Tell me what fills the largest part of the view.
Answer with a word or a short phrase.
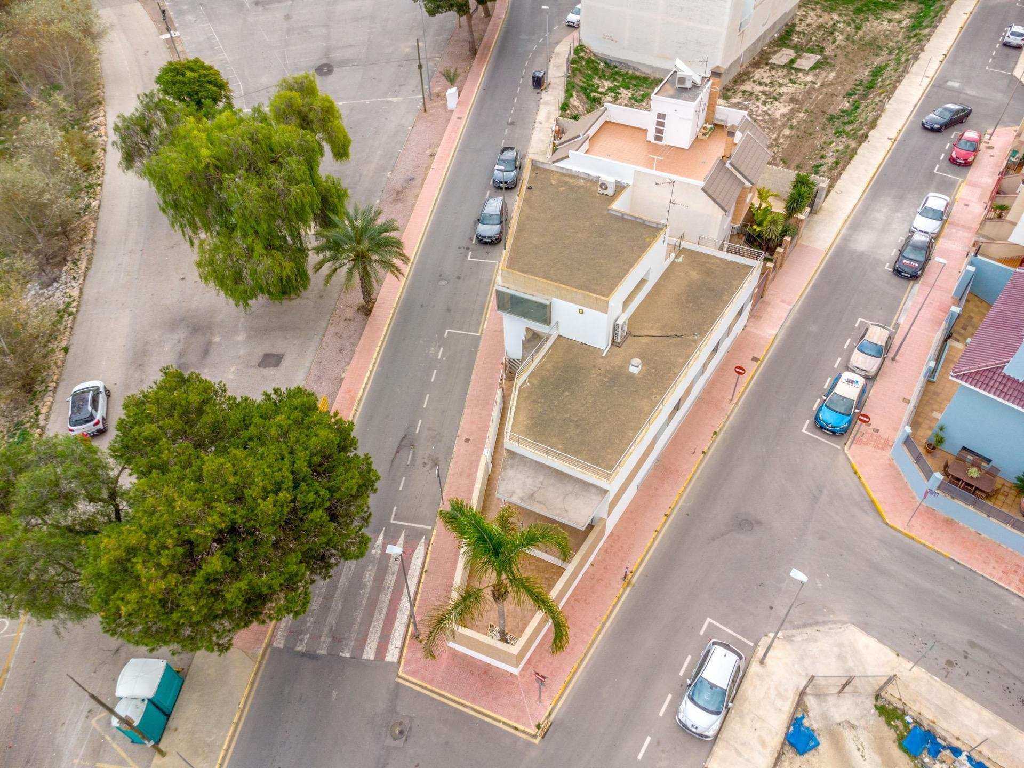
paved ground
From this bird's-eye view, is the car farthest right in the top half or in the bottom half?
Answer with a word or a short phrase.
top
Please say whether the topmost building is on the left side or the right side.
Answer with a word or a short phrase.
right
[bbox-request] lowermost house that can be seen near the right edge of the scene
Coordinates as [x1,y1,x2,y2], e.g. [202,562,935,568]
[927,271,1024,488]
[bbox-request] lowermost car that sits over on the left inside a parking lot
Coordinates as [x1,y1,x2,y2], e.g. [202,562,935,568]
[65,381,108,439]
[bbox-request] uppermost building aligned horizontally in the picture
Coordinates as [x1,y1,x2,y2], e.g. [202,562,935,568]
[581,0,800,90]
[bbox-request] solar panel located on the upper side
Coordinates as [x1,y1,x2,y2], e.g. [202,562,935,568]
[673,58,700,89]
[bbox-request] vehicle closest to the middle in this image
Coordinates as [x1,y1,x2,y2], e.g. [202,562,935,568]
[474,198,508,244]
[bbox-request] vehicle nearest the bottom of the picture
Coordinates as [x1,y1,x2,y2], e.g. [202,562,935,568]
[678,639,745,745]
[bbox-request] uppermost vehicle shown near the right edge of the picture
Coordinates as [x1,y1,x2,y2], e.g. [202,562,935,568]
[1002,26,1024,49]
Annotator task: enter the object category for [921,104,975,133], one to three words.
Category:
car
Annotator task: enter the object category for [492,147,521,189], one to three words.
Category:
car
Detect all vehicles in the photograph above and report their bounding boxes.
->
[567,6,583,27]
[949,131,980,165]
[474,198,508,244]
[1002,26,1024,49]
[921,104,975,133]
[893,237,931,281]
[678,639,745,745]
[492,147,521,189]
[812,376,863,439]
[908,201,945,242]
[846,325,890,379]
[65,381,108,439]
